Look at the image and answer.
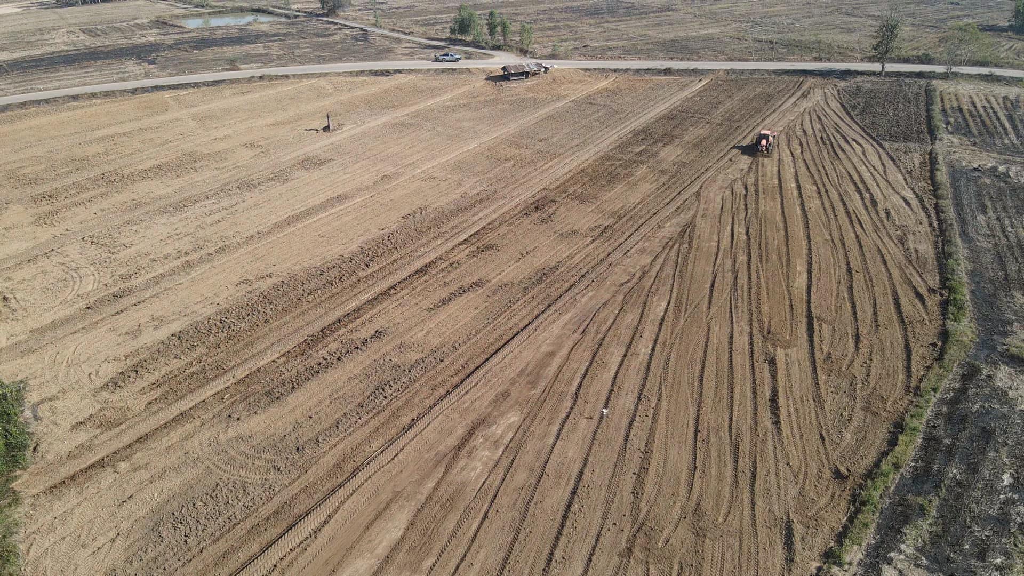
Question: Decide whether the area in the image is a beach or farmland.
farmland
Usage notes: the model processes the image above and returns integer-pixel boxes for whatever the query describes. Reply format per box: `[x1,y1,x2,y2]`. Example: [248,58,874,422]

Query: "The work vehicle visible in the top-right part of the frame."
[752,128,774,155]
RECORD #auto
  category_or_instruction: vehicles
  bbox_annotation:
[752,128,774,155]
[436,52,462,62]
